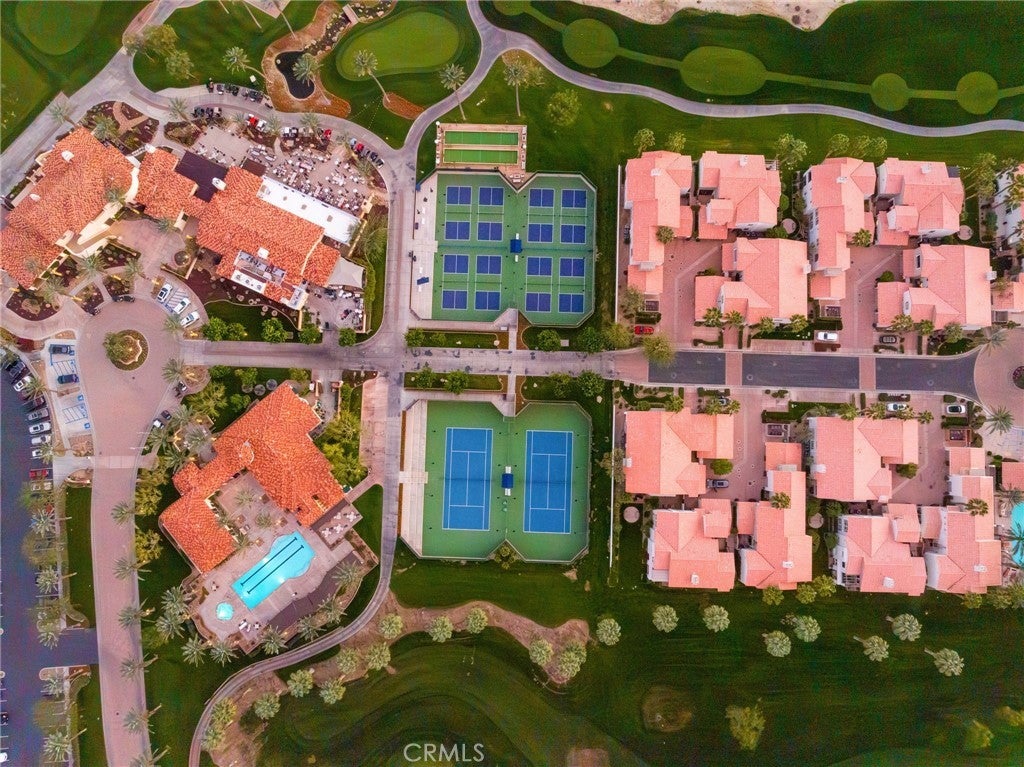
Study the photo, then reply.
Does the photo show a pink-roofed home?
Yes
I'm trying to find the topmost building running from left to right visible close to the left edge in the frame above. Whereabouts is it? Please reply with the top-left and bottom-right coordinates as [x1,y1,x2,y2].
[0,126,365,311]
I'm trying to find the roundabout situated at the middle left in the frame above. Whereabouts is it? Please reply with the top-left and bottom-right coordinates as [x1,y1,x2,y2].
[103,327,149,371]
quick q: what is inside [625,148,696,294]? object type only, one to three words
house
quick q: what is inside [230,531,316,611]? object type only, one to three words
swimming pool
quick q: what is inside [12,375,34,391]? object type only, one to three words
car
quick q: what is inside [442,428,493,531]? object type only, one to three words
tennis court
